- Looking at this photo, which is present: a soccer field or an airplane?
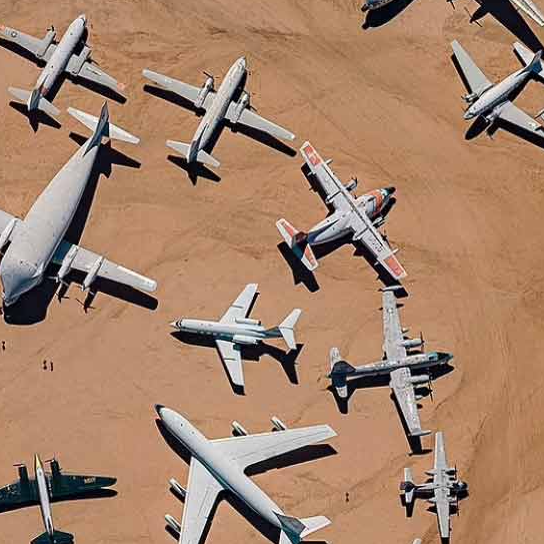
airplane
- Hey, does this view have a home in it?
No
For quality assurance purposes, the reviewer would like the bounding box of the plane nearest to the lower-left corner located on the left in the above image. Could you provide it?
[0,453,118,544]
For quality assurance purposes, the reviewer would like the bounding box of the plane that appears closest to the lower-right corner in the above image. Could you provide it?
[399,431,465,536]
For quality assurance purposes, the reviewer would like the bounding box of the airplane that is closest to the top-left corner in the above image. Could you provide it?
[0,17,125,115]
